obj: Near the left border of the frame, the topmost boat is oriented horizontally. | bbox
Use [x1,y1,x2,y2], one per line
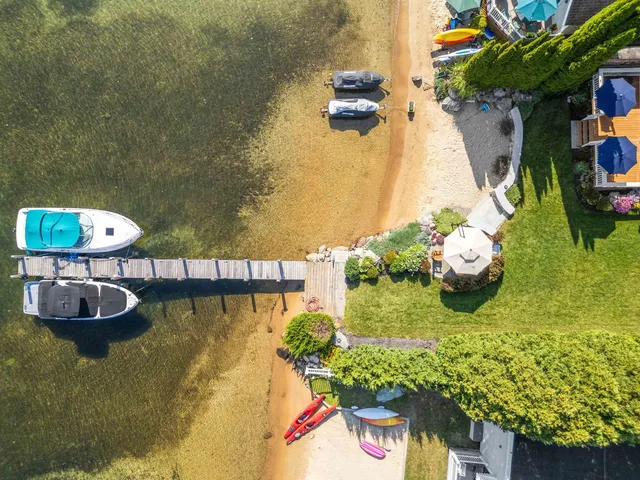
[14,208,147,255]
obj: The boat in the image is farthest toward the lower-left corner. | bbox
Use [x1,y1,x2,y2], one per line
[26,279,141,319]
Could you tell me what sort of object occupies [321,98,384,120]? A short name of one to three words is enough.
boat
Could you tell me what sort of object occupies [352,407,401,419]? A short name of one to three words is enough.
boat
